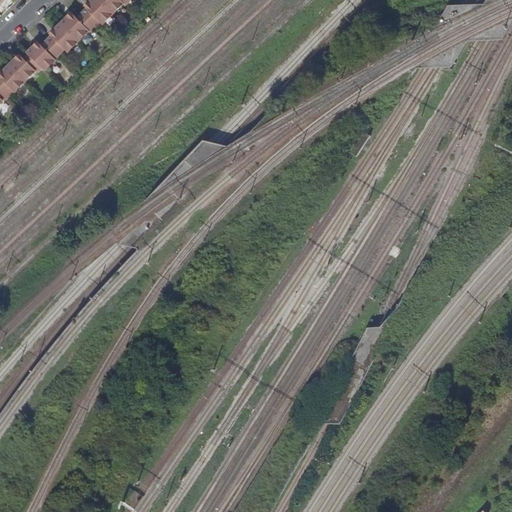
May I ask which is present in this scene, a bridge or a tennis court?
bridge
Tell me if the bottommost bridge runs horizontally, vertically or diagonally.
diagonally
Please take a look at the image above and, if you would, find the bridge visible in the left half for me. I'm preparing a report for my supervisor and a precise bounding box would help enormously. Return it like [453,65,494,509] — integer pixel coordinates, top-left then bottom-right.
[110,130,252,250]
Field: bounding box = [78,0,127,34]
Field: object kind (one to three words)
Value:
house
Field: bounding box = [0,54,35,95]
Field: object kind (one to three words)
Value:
house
